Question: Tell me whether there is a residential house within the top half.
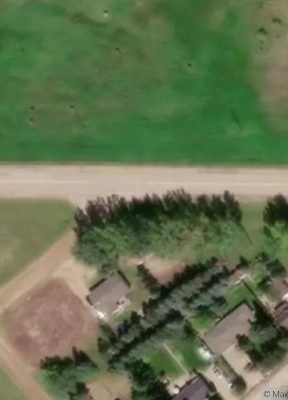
No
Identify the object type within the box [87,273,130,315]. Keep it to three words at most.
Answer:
house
